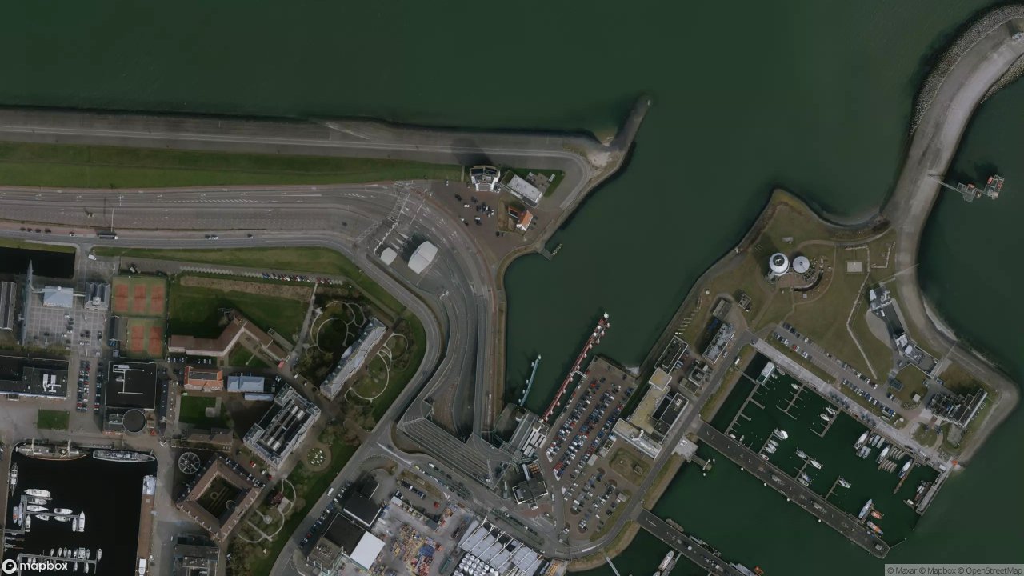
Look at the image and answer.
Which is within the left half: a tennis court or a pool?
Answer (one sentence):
The feature located within the left half is a tennis court.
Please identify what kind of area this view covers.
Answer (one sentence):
It's a port.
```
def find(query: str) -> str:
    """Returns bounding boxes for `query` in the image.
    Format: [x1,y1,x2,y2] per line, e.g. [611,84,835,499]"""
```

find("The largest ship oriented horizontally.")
[17,443,88,460]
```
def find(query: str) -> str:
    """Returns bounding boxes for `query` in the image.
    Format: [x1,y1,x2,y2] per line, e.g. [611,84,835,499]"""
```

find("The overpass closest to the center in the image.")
[397,297,518,489]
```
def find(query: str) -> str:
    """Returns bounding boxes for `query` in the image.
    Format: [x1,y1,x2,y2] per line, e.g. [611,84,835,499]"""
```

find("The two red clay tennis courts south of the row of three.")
[125,318,166,358]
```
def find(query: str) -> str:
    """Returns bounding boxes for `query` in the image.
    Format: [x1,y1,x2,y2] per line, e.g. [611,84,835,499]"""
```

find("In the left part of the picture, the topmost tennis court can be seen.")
[111,276,168,317]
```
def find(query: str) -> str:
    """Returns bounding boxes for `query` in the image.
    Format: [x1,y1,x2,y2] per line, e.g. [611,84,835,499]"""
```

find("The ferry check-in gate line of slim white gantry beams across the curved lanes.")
[375,195,425,250]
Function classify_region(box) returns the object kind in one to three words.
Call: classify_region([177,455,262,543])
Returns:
building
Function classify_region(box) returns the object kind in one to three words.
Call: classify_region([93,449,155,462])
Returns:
ship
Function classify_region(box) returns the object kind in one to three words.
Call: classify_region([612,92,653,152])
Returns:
pier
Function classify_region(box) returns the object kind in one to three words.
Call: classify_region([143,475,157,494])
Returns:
vessel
